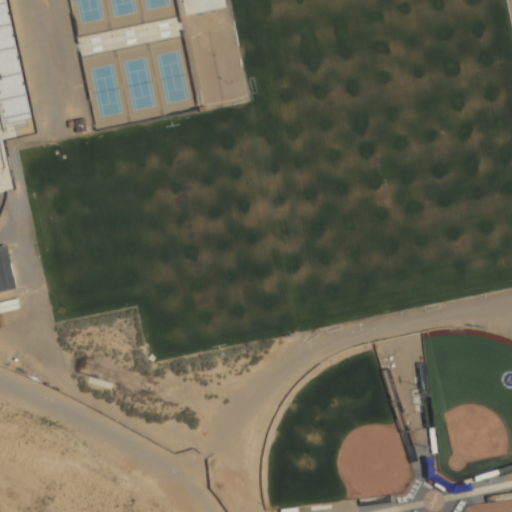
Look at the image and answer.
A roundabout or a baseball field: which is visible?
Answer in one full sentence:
It is a baseball field that can be seen here.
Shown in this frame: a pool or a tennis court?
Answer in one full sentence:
The one in the frame is a tennis court.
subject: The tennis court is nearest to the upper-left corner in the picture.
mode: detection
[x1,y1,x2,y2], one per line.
[70,0,110,38]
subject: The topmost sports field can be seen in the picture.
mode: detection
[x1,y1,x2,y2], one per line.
[20,0,512,362]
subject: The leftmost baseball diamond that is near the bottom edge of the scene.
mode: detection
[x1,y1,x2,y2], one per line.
[268,350,412,506]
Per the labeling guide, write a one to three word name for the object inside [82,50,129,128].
tennis court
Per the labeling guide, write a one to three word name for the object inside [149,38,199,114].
tennis court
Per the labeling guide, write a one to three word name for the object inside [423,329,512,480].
baseball field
